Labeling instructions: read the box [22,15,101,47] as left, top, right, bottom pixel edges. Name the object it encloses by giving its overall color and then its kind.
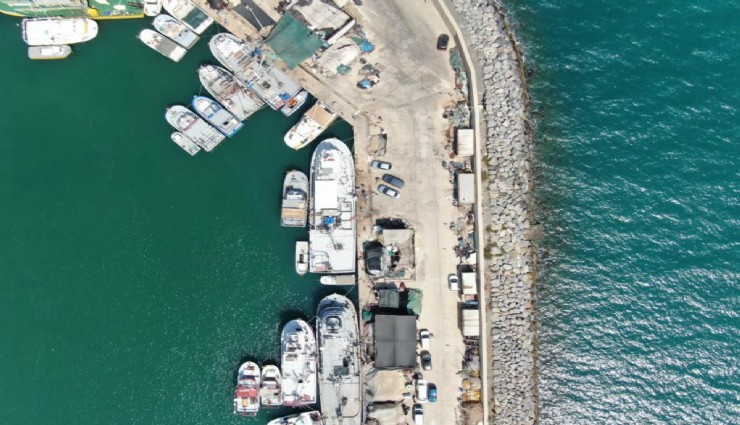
white vessel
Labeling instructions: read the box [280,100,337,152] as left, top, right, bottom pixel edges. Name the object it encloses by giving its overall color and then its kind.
white boat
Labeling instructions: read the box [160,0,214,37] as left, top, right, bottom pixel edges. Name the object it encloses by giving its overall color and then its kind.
white boat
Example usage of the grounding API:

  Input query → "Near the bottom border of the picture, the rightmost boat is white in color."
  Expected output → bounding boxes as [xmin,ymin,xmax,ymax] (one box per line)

[314,293,363,425]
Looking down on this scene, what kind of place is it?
port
